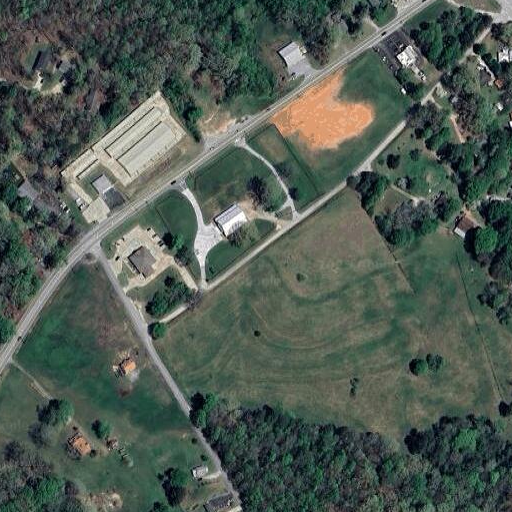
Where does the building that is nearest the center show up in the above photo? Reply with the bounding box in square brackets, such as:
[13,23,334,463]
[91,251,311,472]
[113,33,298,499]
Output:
[214,204,247,236]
